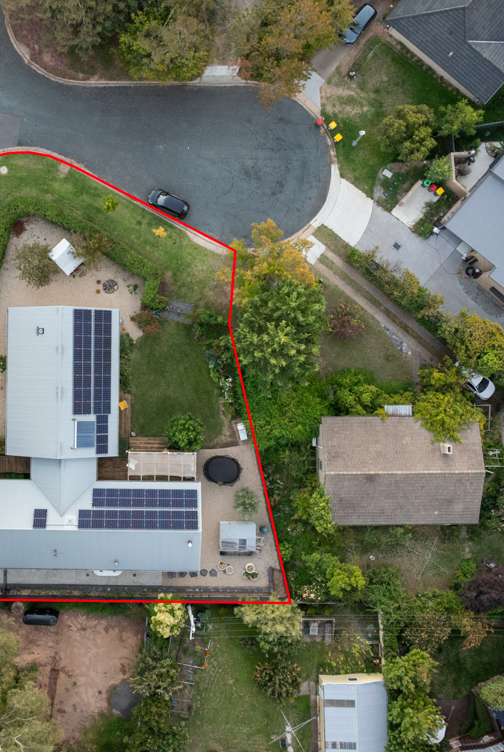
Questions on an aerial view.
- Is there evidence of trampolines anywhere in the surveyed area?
Yes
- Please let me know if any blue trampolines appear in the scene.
No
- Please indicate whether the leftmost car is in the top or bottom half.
top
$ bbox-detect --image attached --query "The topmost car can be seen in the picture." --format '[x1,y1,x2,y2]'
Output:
[337,0,381,48]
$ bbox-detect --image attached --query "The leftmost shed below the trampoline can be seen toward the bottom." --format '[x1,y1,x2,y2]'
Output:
[218,519,257,551]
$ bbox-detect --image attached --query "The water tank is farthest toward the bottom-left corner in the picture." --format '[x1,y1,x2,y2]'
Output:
[24,608,60,624]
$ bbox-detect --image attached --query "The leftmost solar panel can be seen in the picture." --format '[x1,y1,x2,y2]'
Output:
[33,509,47,529]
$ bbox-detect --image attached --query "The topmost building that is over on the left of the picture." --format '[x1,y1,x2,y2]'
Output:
[48,238,83,276]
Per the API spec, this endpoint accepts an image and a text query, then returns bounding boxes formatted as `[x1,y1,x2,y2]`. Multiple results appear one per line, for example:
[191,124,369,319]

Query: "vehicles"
[453,361,497,403]
[145,187,193,221]
[337,0,381,48]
